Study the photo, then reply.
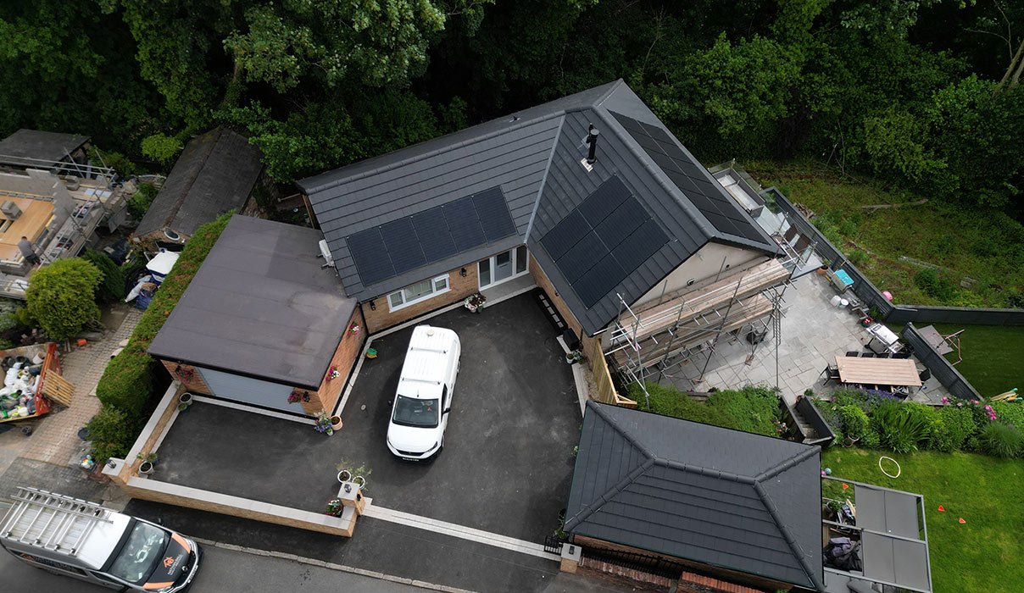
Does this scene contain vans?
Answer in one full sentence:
Yes, looking at the shot, I can spot a van.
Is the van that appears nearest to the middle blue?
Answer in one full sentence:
No, from above the van that appears nearest to the middle looks white.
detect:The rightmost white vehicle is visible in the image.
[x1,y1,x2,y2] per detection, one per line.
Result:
[385,331,459,468]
